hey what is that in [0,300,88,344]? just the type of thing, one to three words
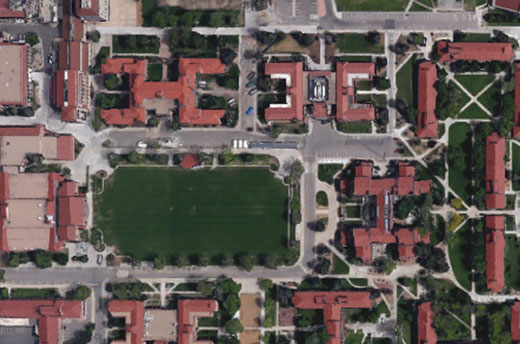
building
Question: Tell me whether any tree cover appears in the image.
Yes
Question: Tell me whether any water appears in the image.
No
